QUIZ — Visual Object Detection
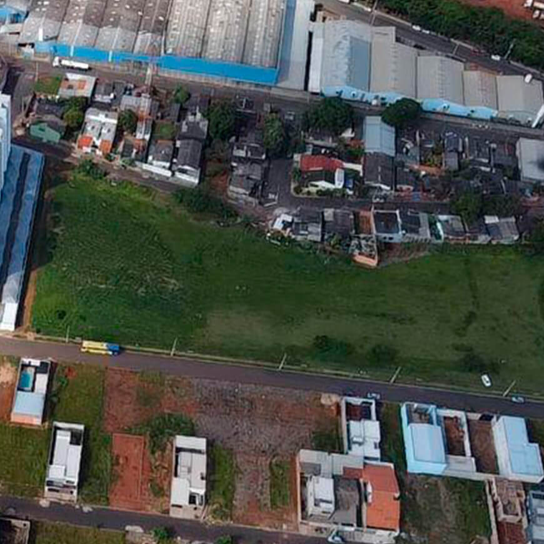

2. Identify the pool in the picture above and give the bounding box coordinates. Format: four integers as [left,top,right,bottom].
[21,369,34,387]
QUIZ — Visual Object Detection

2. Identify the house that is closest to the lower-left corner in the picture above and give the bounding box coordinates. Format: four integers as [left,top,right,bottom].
[45,421,84,504]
